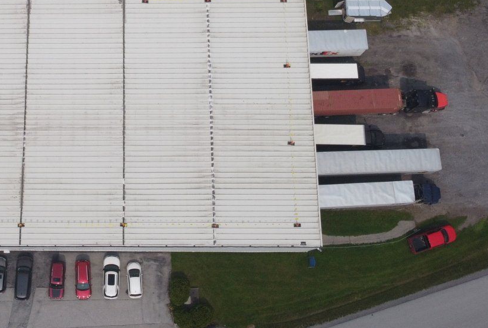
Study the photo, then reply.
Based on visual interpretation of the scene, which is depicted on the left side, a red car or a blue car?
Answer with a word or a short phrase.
red car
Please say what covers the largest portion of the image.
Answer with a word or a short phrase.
buildings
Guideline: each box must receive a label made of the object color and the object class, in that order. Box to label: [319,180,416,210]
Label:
white trailer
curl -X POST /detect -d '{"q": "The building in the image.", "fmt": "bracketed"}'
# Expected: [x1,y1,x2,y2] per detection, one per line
[0,0,327,255]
